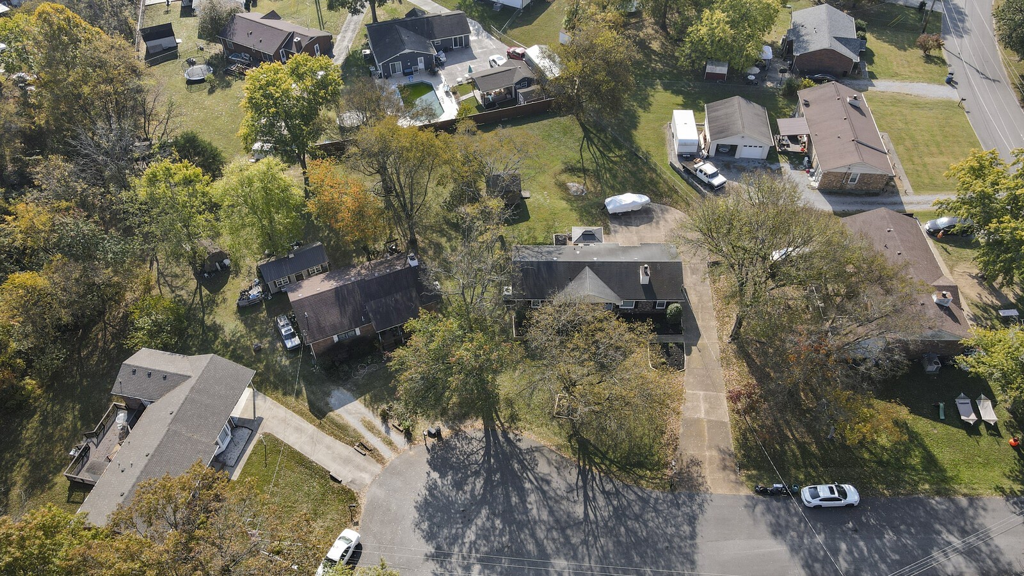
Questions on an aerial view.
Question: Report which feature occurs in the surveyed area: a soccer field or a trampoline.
trampoline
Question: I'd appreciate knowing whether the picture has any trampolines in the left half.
Yes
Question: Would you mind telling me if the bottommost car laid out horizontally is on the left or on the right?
right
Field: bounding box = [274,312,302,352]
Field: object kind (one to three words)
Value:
car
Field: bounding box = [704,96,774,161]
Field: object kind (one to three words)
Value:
building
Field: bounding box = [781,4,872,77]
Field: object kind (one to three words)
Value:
house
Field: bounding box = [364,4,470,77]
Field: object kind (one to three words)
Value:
house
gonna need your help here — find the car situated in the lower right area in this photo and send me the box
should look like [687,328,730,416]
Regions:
[803,481,863,510]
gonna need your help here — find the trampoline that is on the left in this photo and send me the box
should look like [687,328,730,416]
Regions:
[177,53,213,84]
